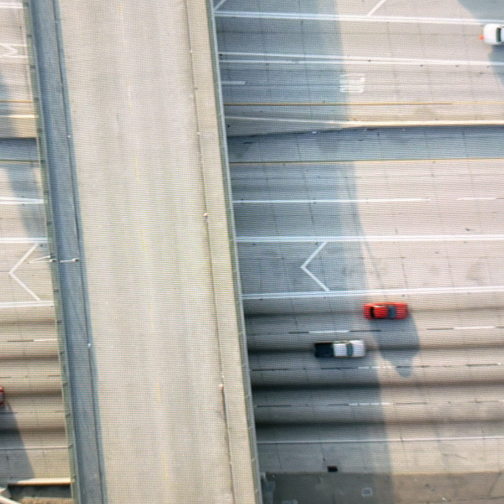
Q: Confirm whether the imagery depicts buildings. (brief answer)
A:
No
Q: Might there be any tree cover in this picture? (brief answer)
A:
No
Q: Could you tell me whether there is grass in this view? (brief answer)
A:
No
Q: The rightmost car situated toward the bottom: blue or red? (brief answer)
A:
red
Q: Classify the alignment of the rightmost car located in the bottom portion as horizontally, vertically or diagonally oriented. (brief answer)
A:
horizontally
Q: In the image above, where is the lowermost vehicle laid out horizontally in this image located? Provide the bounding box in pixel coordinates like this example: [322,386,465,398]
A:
[313,339,366,361]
